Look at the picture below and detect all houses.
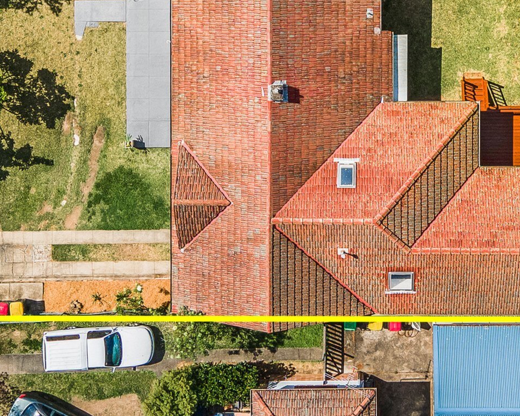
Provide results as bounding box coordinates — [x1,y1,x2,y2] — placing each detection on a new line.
[209,372,378,416]
[168,0,520,333]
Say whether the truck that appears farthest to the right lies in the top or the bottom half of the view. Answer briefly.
bottom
